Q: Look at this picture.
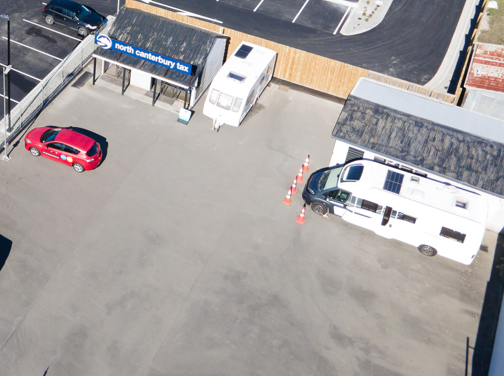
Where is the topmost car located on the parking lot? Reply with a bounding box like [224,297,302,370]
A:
[39,0,105,31]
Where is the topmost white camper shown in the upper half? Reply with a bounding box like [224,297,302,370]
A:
[206,46,276,139]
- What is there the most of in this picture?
paved ground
